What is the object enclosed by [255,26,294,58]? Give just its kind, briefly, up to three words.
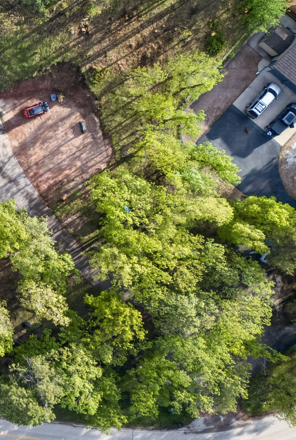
shed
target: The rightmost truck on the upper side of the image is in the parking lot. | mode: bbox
[265,98,296,141]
